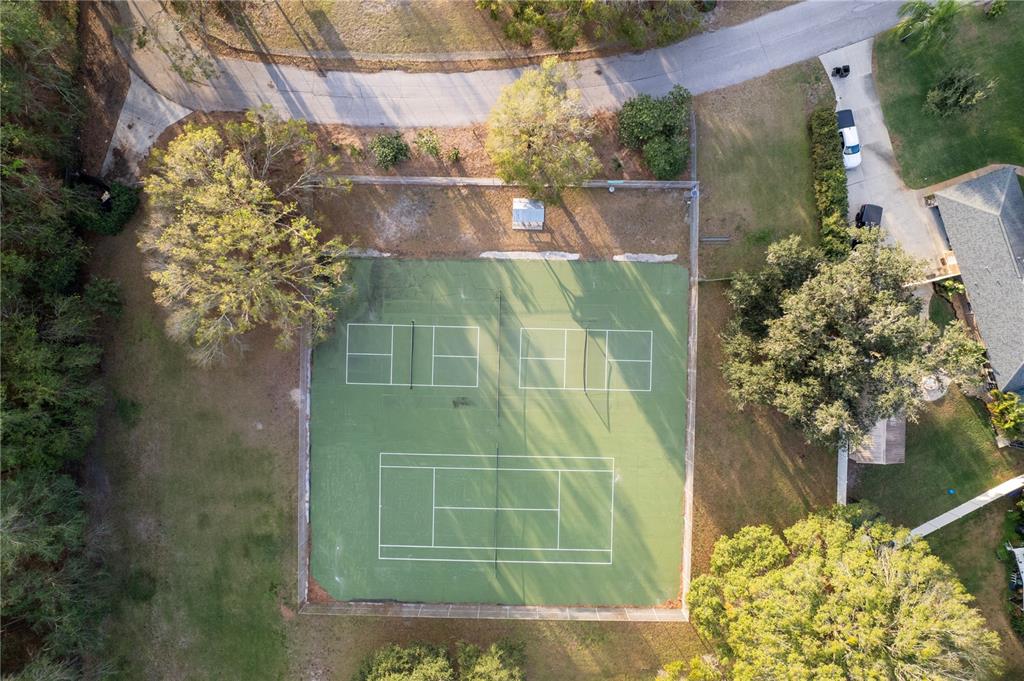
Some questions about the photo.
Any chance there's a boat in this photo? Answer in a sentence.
No, no boat is visible in the scene.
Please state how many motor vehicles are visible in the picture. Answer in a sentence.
Altogether the scene contains 2 motor vehicles.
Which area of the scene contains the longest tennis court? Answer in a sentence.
The longest tennis court appears toward the bottom of the photo.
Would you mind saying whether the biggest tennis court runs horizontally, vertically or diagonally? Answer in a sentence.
Seen from above, the biggest tennis court lies horizontally.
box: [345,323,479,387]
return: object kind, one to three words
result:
sports court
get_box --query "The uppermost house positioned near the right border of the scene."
[933,168,1024,390]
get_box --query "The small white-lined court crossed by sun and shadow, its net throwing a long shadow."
[519,328,653,391]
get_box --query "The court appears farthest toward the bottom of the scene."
[379,453,614,565]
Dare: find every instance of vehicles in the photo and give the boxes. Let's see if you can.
[854,205,882,253]
[832,107,861,170]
